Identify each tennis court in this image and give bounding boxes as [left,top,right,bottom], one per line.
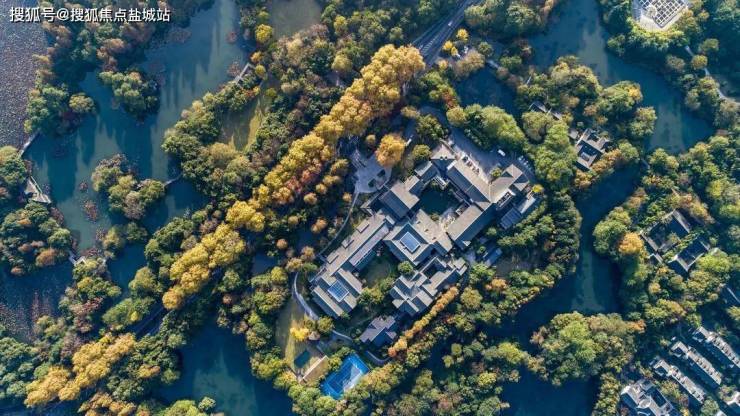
[322,353,369,402]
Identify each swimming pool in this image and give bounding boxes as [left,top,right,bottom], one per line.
[293,350,314,368]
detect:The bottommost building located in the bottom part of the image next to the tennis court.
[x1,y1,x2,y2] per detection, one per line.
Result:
[301,354,331,384]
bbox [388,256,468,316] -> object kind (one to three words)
house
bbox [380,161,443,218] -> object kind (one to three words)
building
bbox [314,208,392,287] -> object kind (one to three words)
building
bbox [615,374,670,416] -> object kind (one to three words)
house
